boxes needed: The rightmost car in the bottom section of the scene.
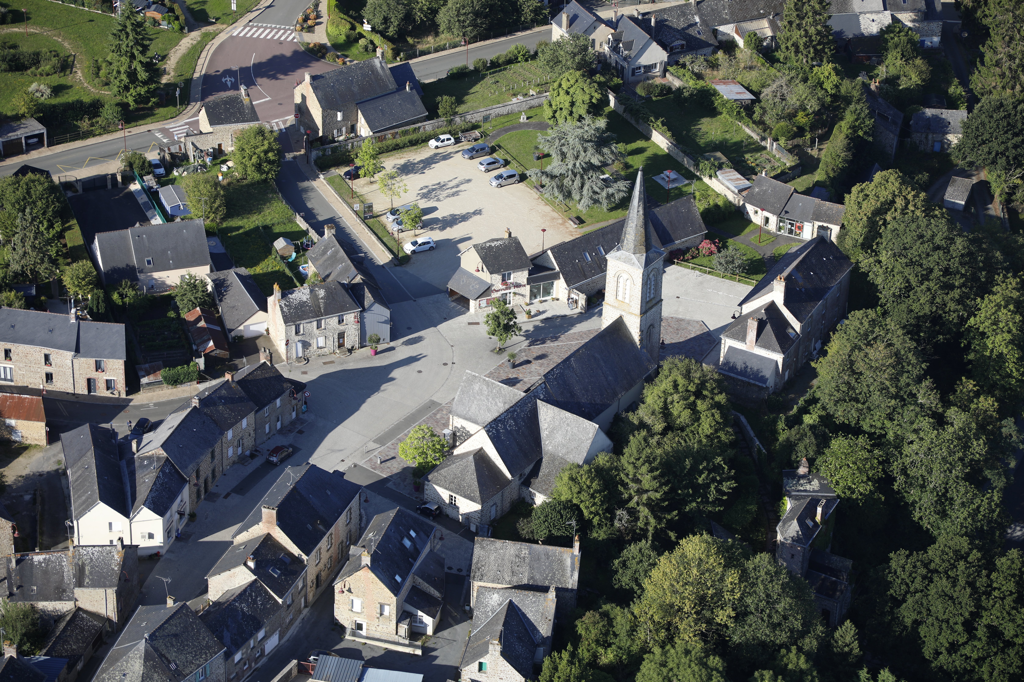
[413,500,446,521]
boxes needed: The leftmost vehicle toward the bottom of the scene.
[127,416,154,442]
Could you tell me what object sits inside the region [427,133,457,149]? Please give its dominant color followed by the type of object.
white car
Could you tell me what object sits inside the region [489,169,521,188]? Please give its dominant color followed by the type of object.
gray car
